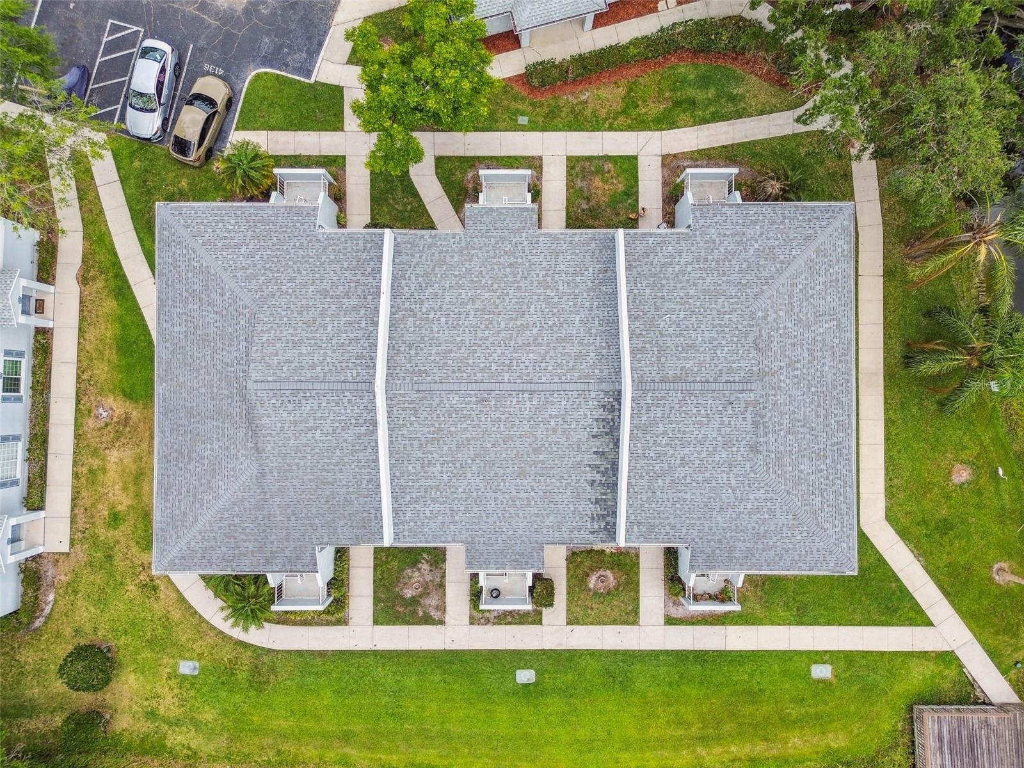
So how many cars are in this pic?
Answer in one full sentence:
Looking from above, you can make out 2 cars.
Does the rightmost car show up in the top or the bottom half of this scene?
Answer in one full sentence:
You can find the rightmost car in the top half.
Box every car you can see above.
[164,73,233,168]
[118,36,180,142]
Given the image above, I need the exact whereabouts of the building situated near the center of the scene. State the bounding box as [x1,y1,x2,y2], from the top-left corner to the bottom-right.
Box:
[150,168,859,610]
